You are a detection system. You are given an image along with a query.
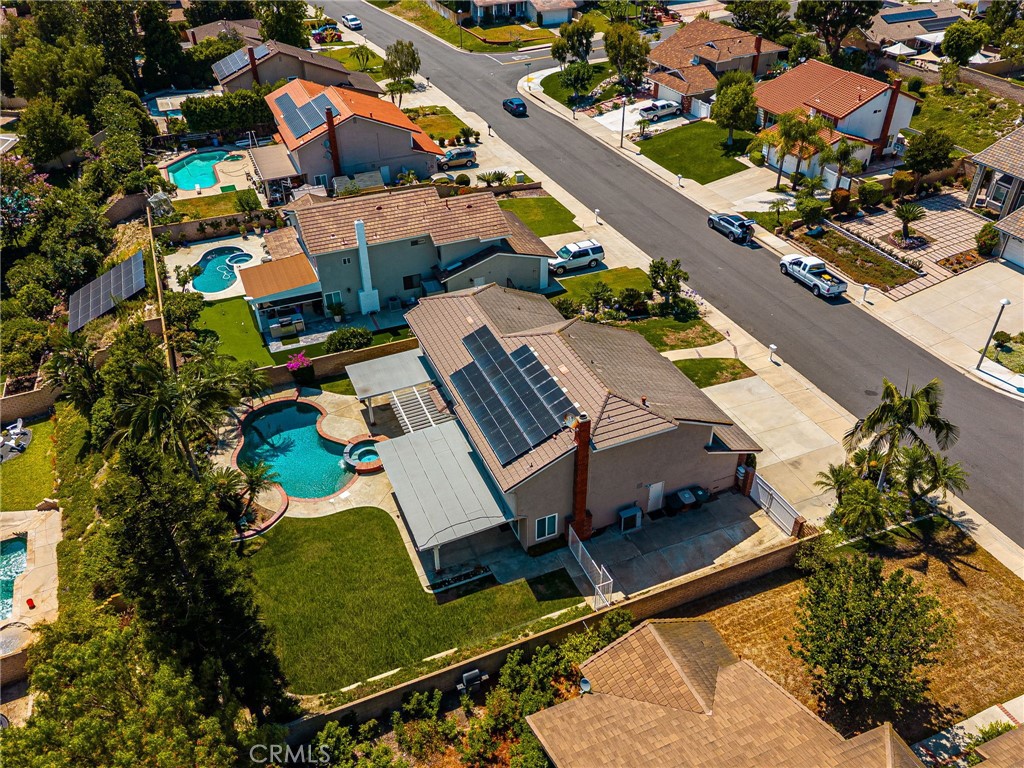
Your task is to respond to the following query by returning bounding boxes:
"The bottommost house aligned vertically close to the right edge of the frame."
[963,124,1024,271]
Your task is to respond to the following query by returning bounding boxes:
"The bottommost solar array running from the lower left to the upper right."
[65,256,144,339]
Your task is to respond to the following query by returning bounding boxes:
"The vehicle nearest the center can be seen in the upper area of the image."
[549,236,608,271]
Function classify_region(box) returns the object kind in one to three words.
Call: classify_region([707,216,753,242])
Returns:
car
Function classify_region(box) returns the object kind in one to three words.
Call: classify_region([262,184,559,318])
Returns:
house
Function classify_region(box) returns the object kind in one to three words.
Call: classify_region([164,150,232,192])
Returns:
swimming pool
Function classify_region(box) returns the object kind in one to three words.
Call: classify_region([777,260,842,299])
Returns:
truck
